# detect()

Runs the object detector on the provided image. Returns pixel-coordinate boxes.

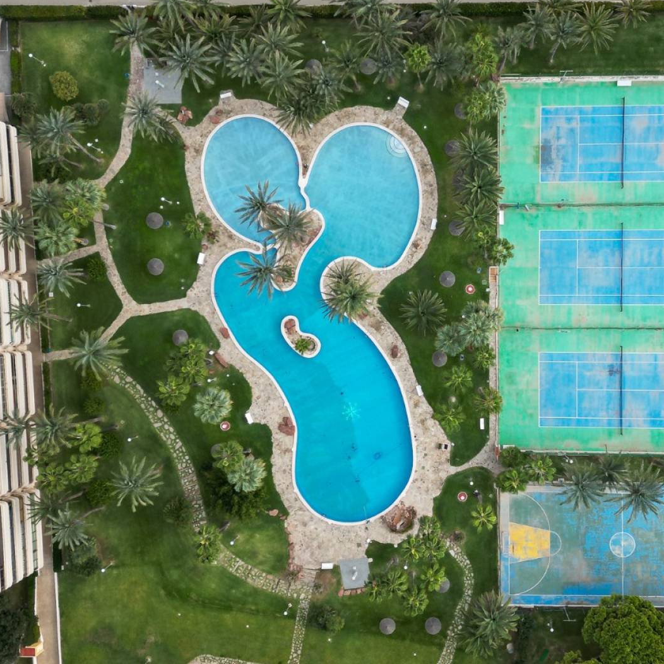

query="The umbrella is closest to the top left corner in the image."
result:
[147,212,165,230]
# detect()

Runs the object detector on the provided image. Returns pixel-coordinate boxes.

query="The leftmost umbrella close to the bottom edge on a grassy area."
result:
[380,617,397,633]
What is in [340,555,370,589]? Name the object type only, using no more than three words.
shed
